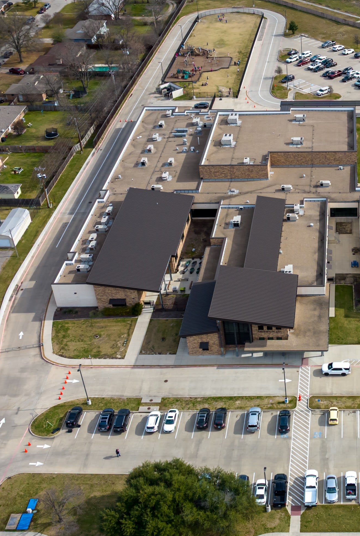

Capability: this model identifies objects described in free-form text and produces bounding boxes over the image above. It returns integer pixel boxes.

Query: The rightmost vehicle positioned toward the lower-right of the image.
[342,472,358,504]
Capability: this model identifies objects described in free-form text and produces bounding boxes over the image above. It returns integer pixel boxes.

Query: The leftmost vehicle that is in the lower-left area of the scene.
[62,407,82,430]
